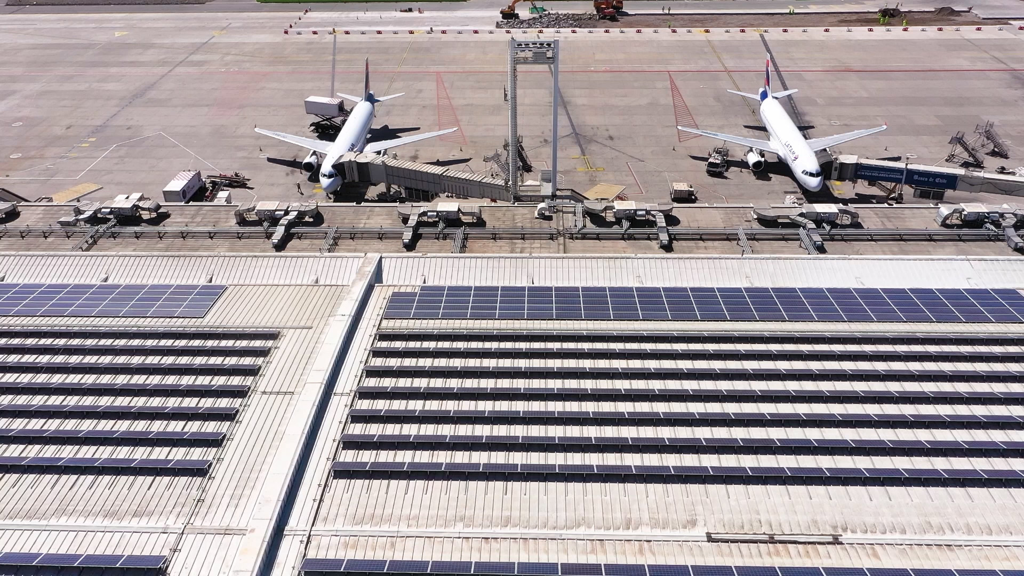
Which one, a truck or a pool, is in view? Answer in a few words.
truck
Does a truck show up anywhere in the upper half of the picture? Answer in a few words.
Yes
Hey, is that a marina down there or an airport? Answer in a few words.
airport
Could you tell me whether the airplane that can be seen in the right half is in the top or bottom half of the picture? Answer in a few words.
top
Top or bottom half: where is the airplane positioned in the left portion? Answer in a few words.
top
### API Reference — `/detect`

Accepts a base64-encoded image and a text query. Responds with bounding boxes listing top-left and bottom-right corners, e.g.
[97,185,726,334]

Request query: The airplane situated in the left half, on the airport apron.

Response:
[254,59,458,197]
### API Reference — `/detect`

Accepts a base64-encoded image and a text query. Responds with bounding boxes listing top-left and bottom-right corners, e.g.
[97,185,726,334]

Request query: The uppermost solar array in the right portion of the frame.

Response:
[383,284,1024,319]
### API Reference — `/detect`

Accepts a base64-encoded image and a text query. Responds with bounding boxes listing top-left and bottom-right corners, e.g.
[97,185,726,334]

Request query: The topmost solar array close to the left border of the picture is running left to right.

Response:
[0,282,227,315]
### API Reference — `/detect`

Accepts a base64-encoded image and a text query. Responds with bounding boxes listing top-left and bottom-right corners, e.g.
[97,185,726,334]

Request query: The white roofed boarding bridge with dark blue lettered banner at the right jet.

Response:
[821,152,1024,205]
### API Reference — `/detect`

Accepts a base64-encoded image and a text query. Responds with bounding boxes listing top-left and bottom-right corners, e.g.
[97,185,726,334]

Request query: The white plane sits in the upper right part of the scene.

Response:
[677,55,888,195]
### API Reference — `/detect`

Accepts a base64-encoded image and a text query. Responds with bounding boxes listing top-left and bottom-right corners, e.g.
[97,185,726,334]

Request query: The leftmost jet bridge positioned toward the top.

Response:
[341,154,510,202]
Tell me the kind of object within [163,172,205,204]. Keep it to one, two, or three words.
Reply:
truck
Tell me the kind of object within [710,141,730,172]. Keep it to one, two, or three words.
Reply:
vehicle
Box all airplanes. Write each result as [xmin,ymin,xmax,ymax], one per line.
[254,59,458,197]
[677,55,888,195]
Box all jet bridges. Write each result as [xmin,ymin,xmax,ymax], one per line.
[821,152,1024,205]
[341,154,510,202]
